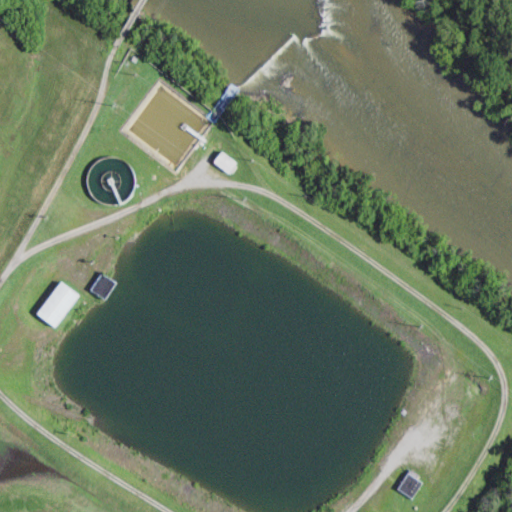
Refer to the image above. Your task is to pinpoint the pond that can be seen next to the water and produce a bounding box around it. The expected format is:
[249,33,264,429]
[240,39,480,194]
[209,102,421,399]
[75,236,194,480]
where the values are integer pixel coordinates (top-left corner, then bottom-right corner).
[54,210,414,512]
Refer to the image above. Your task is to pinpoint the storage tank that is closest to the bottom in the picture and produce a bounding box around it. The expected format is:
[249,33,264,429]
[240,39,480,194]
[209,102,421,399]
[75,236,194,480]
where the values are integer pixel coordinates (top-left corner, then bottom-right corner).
[86,156,140,206]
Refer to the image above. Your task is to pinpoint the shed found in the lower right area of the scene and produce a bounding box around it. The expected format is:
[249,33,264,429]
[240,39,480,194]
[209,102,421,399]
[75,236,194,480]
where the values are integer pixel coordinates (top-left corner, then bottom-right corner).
[398,469,424,500]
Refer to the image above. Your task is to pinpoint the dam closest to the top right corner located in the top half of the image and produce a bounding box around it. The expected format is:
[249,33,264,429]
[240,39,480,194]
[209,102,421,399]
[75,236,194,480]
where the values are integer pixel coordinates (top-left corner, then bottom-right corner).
[239,0,328,92]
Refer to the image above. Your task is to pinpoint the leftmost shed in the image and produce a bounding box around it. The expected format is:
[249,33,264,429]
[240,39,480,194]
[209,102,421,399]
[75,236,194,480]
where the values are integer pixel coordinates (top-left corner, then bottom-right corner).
[36,282,80,328]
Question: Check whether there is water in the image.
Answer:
Yes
